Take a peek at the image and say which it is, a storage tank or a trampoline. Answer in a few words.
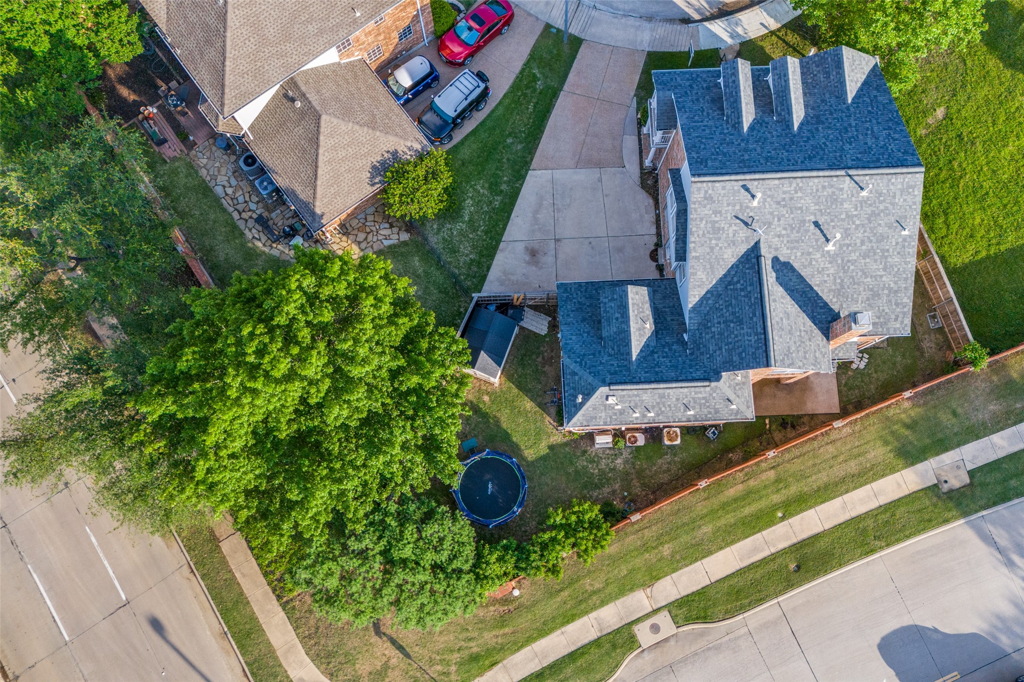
trampoline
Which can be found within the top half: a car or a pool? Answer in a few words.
car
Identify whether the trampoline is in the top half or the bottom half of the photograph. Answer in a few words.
bottom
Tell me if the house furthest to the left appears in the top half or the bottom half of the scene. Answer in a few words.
top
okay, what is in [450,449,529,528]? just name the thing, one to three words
trampoline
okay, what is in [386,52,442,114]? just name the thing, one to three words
car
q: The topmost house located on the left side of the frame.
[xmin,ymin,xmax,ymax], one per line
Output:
[139,0,439,240]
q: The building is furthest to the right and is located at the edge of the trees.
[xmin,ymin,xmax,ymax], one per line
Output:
[556,44,924,434]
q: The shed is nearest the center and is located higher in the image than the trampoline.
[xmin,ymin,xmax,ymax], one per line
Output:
[461,307,518,381]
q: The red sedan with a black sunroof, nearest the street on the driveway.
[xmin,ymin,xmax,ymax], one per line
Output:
[437,0,518,68]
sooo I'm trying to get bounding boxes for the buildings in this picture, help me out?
[139,0,439,240]
[461,307,518,381]
[556,44,924,434]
